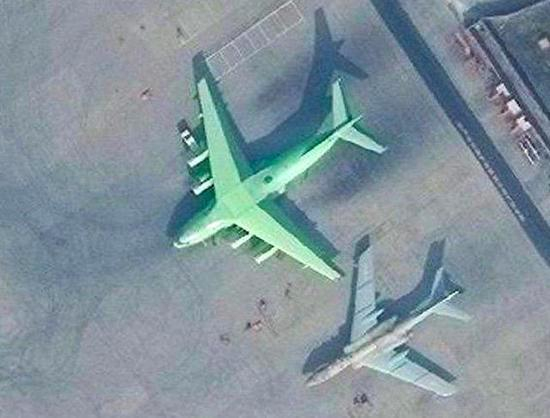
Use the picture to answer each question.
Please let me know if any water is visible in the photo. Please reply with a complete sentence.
No, the picture contains no water.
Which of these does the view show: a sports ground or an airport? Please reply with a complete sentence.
The area seen from above is an airport.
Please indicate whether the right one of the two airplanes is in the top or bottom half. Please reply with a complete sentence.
You can find the right one of the two airplanes in the bottom half.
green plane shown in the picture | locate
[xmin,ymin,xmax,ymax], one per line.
[175,77,388,279]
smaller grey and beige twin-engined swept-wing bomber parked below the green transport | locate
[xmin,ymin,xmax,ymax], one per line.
[305,250,475,396]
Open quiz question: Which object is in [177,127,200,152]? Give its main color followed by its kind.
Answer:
white truck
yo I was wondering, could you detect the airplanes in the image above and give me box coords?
[175,77,388,279]
[305,250,475,396]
